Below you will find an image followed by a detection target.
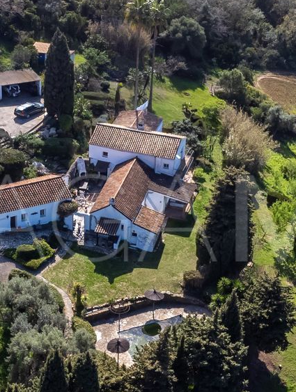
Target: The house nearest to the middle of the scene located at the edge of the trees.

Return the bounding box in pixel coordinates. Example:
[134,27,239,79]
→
[73,108,199,260]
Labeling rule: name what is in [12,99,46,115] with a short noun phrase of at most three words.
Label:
car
